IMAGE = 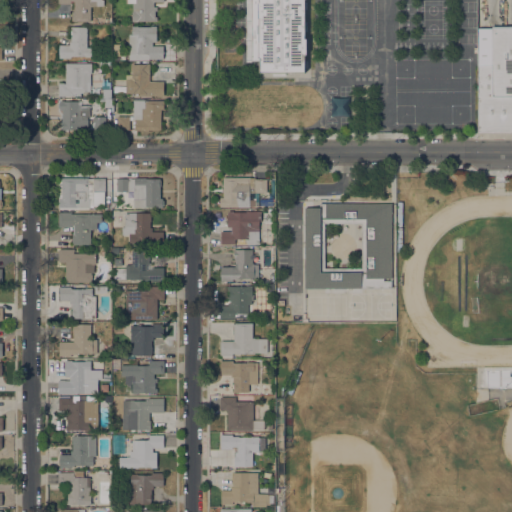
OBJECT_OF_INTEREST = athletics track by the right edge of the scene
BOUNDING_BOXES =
[404,196,512,367]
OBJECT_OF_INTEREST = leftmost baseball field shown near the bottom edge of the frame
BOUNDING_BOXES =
[311,434,398,512]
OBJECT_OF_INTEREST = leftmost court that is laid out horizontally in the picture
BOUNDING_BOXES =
[306,289,394,320]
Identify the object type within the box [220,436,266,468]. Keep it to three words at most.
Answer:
house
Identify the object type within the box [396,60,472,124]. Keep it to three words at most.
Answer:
sports court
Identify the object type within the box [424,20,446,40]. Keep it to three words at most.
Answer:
basketball court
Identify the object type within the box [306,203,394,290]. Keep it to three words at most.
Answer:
building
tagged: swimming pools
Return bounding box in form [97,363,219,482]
[100,438,110,458]
[100,409,109,429]
[112,434,126,455]
[100,482,110,506]
[98,222,110,233]
[264,250,272,266]
[100,296,110,314]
